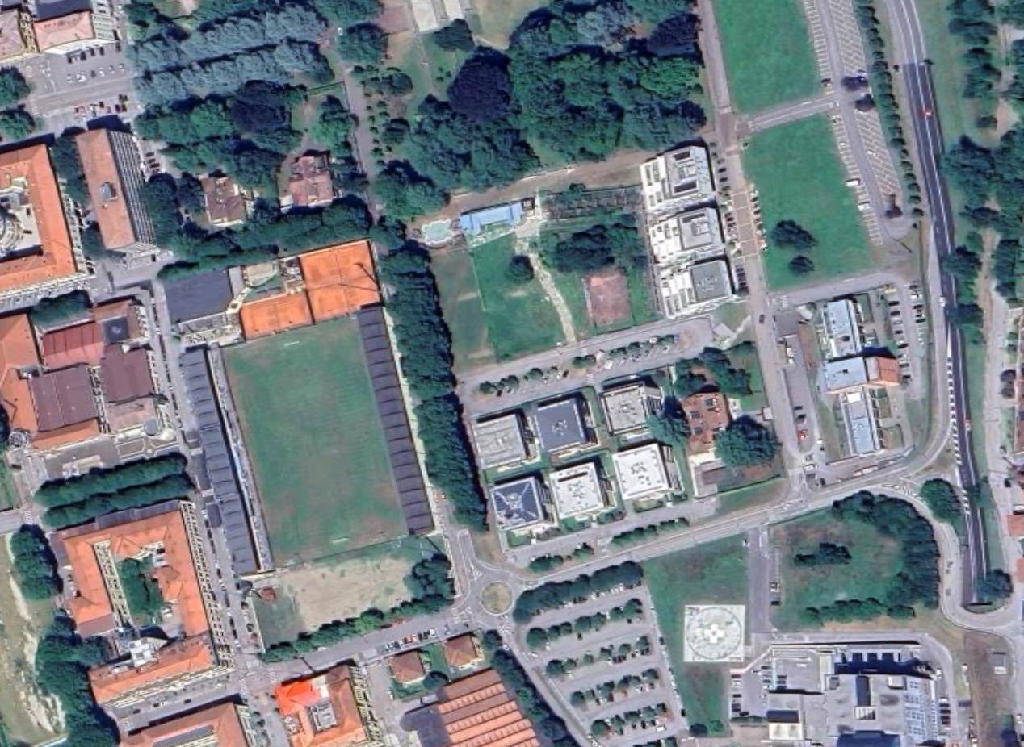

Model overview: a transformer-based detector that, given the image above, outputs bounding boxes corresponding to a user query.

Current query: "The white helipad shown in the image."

[684,605,745,663]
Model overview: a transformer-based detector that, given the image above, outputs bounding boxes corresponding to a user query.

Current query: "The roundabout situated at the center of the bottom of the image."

[462,560,526,629]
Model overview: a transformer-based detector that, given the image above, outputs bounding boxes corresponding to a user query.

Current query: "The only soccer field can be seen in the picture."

[222,313,407,569]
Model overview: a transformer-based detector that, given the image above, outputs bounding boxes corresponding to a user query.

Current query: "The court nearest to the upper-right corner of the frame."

[584,273,633,327]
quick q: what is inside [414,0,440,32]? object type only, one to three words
sports court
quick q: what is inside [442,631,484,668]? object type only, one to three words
house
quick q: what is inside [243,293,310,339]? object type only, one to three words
tennis court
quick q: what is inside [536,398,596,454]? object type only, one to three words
building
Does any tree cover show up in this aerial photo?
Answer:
Yes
